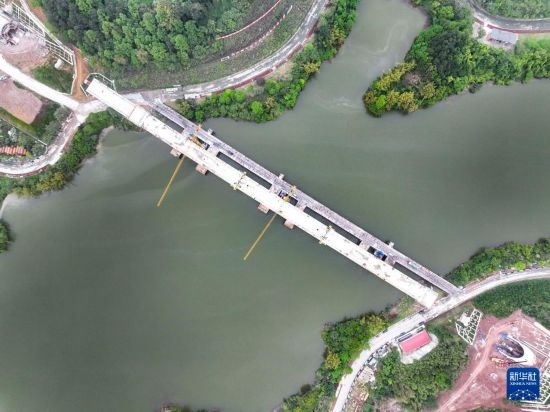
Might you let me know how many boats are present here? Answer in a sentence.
The picture shows no boats.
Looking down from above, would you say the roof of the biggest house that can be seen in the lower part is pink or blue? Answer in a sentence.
In this view, the roof of the biggest house that can be seen in the lower part is pink.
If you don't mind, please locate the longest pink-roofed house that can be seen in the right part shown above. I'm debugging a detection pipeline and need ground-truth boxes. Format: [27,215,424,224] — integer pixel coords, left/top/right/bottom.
[400,329,432,355]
